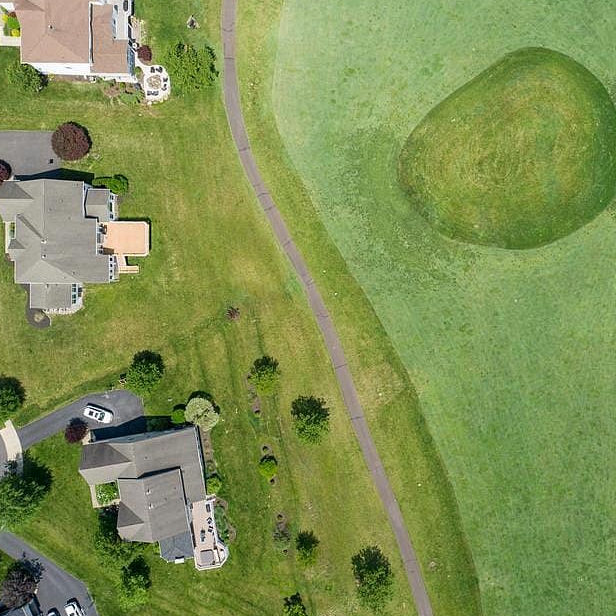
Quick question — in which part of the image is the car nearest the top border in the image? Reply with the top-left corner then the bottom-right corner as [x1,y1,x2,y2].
[83,404,114,424]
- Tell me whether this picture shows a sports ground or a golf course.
golf course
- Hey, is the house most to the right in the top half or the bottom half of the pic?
bottom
